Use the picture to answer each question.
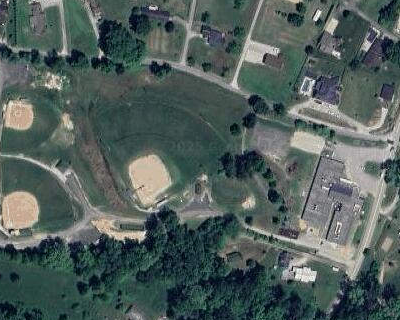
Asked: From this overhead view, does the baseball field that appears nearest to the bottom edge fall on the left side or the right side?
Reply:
left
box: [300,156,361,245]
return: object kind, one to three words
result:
building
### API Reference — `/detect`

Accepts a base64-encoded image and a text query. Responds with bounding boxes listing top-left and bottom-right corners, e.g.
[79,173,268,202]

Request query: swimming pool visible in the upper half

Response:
[300,77,314,95]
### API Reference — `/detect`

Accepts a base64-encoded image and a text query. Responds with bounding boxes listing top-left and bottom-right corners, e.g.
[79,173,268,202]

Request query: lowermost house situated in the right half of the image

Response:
[294,266,319,283]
